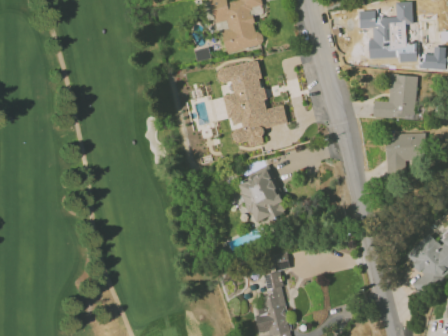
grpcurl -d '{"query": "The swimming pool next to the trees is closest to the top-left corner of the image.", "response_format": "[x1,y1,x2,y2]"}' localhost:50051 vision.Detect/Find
[192,24,206,48]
